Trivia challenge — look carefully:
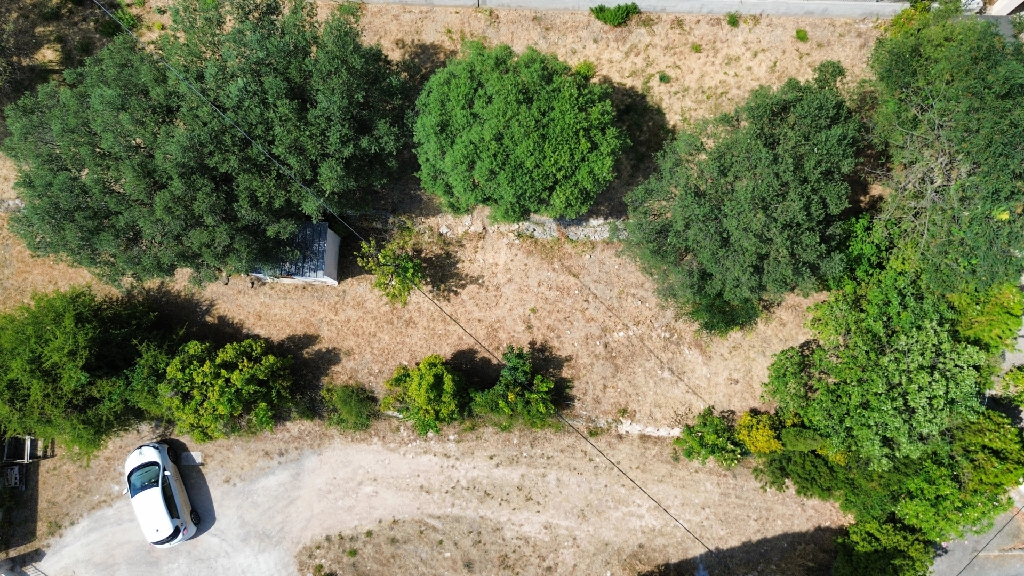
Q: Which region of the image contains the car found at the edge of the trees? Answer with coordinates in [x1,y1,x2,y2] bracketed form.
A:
[121,441,201,552]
